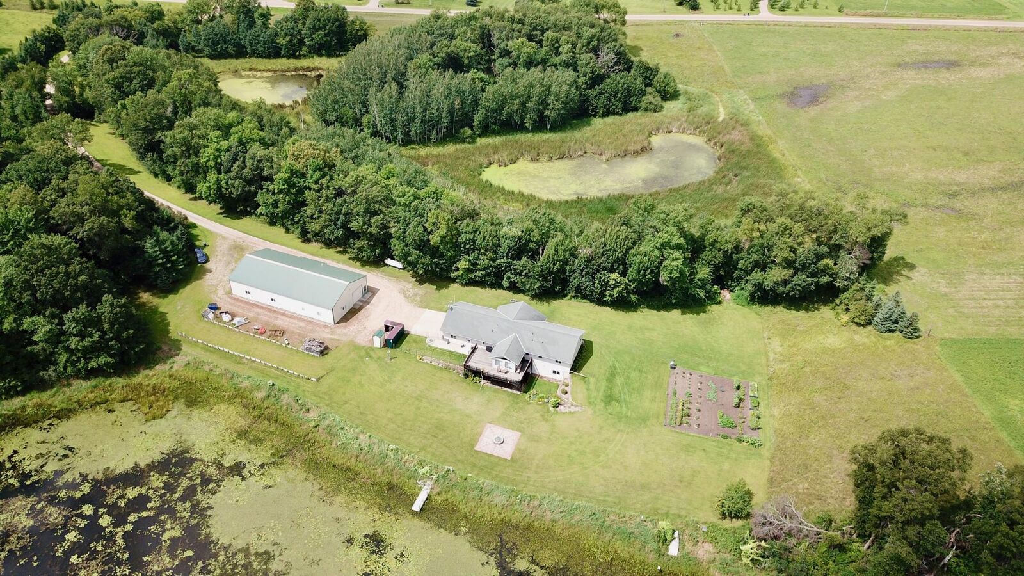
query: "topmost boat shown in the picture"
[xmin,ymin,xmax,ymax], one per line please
[382,257,404,269]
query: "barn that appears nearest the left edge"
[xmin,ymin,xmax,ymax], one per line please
[229,249,373,322]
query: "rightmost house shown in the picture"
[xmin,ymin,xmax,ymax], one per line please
[440,294,585,391]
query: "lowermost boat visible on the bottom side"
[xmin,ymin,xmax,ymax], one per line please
[668,530,680,557]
